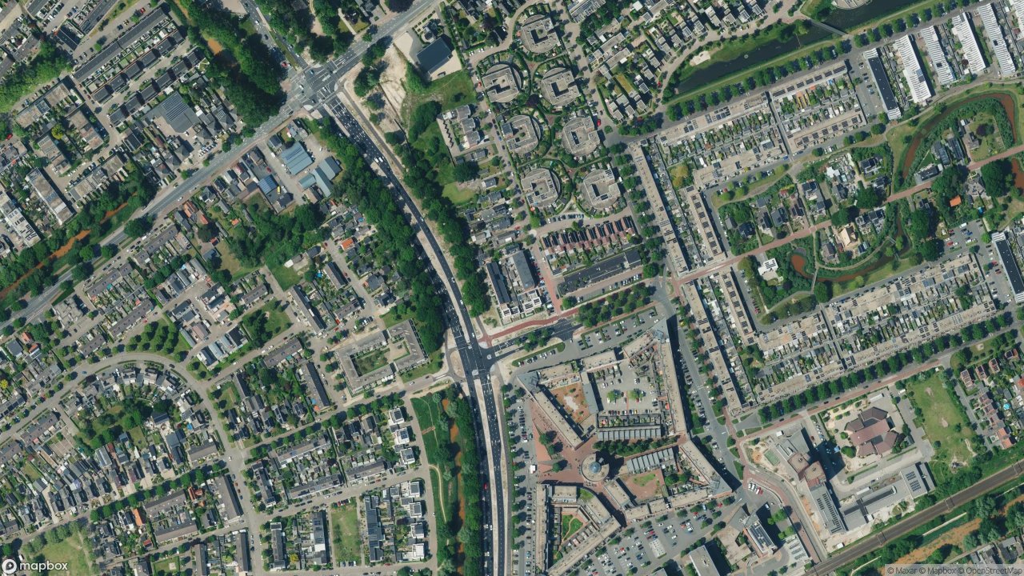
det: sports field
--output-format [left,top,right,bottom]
[909,372,977,472]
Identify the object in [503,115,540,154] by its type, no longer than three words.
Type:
building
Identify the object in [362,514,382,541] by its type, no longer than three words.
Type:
house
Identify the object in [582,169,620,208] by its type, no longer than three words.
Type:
building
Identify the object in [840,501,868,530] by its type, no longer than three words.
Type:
house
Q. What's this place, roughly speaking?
residential area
